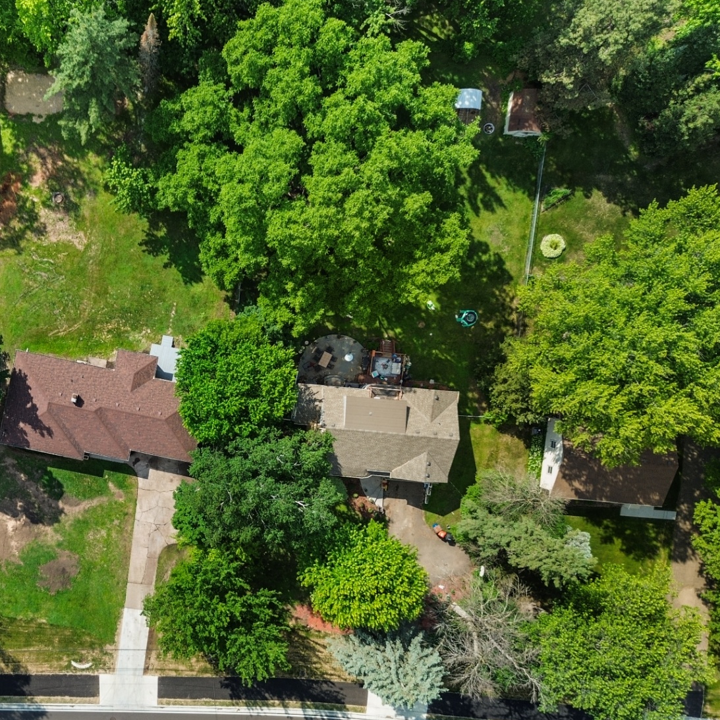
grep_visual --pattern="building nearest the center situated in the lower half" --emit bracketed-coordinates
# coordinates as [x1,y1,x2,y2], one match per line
[291,383,460,484]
